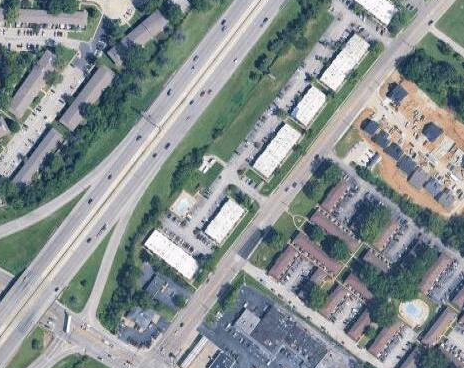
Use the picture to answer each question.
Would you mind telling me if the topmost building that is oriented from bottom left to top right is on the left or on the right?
left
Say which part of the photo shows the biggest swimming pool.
bottom right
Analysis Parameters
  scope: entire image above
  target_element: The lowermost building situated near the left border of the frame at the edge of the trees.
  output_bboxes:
[14,129,63,184]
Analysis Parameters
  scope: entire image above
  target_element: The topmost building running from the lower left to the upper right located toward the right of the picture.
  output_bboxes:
[320,34,370,91]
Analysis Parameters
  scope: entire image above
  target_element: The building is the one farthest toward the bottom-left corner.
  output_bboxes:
[130,307,152,330]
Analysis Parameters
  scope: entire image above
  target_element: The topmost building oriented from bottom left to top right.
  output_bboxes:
[124,9,168,50]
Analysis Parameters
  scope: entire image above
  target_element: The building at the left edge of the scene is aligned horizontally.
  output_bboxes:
[14,9,87,27]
